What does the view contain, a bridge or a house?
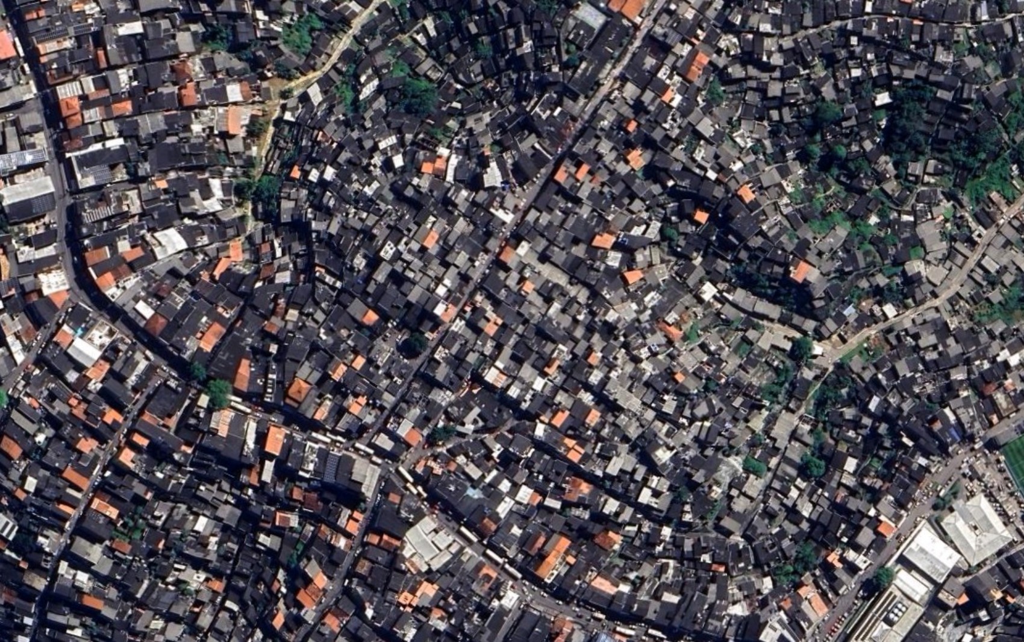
house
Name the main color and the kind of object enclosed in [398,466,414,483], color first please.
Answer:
white vehicle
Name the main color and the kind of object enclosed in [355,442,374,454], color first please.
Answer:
white vehicle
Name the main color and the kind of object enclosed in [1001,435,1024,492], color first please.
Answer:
green soccer field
